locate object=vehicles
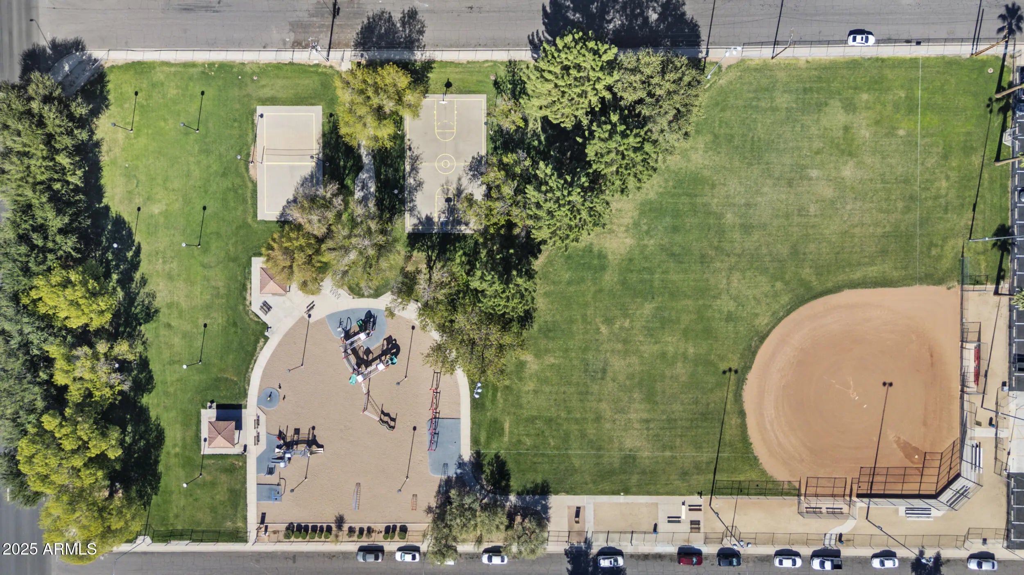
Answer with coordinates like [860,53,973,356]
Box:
[810,557,844,572]
[1016,104,1024,116]
[846,32,875,46]
[966,558,998,571]
[1011,359,1024,371]
[1018,190,1024,201]
[677,553,703,567]
[481,552,508,565]
[716,553,743,567]
[774,555,802,569]
[396,549,421,563]
[1017,89,1024,101]
[870,556,899,570]
[356,549,385,562]
[597,554,624,569]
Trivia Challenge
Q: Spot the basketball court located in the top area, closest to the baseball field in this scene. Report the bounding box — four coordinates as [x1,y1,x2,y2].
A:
[405,94,487,233]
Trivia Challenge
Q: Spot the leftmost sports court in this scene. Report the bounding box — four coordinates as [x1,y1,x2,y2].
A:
[257,106,323,220]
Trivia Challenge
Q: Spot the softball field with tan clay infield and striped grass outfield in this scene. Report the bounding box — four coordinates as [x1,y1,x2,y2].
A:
[479,56,1008,499]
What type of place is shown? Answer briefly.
sports ground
